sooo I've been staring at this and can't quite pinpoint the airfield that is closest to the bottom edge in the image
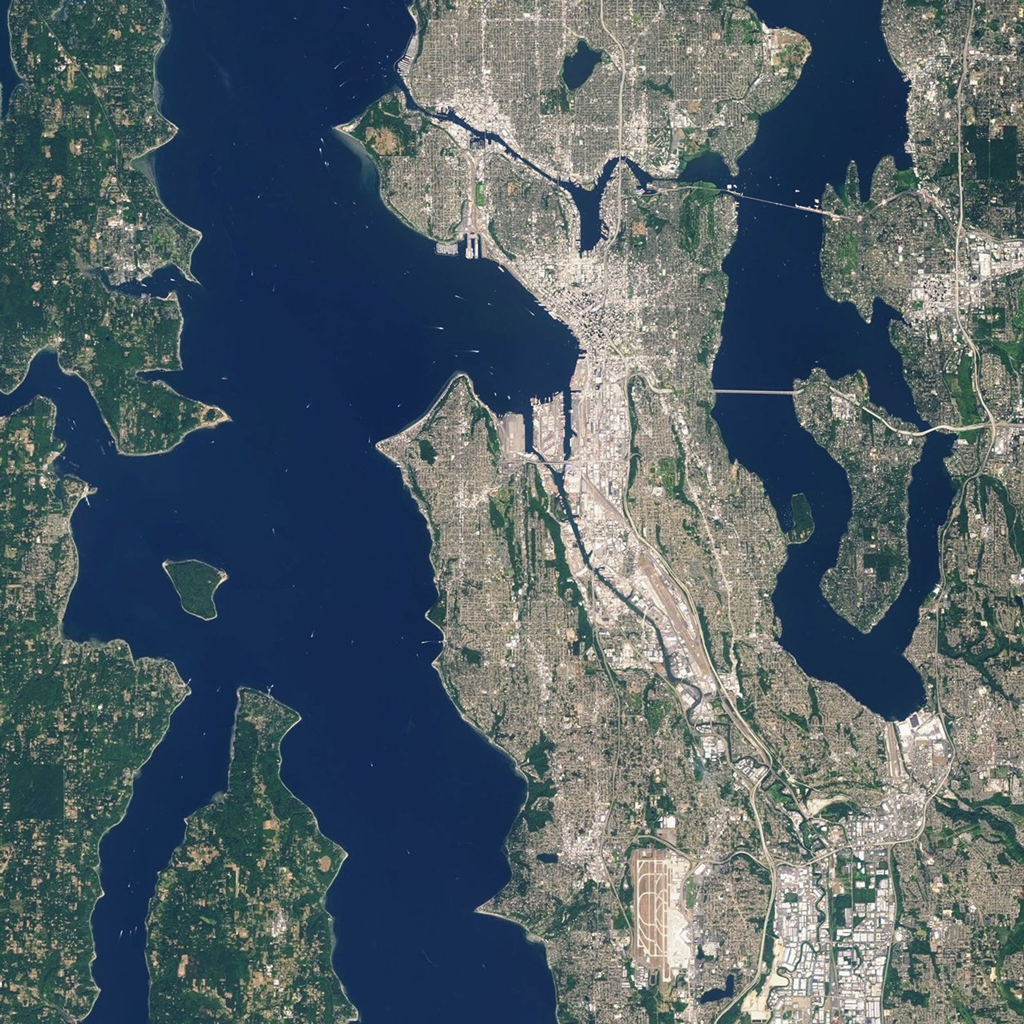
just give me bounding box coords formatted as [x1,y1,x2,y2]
[628,851,693,993]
